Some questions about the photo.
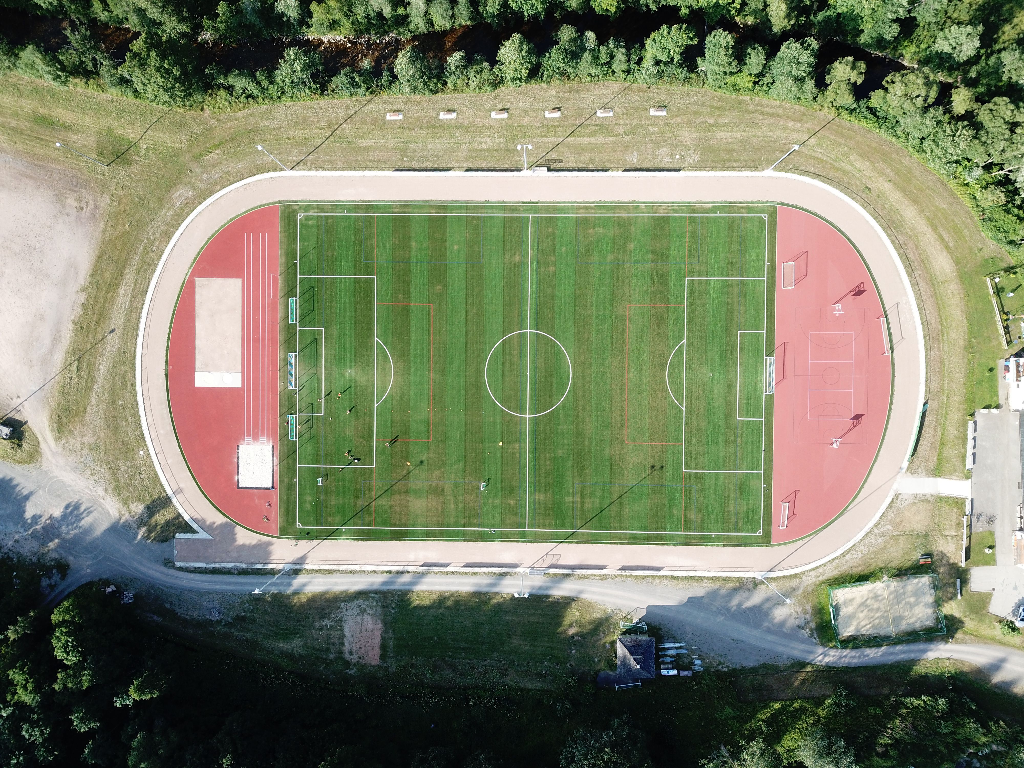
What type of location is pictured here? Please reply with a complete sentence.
The picture captures a sports ground.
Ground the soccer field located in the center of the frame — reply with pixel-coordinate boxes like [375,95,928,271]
[165,200,895,547]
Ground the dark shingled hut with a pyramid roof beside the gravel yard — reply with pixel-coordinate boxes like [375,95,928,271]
[617,631,655,679]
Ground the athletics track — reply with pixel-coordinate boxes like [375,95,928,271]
[142,176,919,570]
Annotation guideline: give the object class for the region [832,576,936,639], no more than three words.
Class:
sports court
